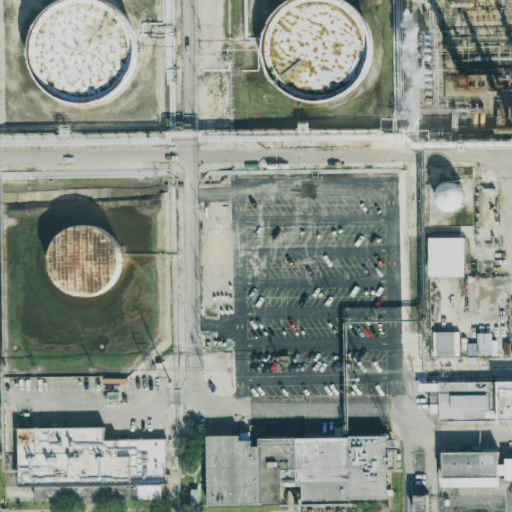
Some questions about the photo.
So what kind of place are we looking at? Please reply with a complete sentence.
This image shows an industrial area.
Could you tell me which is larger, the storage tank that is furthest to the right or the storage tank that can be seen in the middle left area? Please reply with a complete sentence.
The storage tank that can be seen in the middle left area is larger than the storage tank that is furthest to the right.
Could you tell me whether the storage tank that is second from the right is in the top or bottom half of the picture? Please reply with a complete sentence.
The storage tank that is second from the right is in the top half of the image.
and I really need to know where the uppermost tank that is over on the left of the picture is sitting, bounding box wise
[26,0,138,107]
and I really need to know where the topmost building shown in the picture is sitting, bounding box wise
[428,238,466,278]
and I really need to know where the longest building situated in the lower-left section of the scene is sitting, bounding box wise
[17,429,168,489]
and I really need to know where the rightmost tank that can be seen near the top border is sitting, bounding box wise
[258,0,372,106]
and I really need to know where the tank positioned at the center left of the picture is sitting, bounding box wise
[47,225,124,302]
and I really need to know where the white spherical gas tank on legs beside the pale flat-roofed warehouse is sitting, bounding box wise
[432,182,468,214]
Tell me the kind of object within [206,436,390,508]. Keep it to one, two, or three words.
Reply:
building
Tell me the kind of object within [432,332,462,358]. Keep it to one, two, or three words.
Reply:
shed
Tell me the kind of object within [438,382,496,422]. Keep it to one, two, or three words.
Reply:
building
